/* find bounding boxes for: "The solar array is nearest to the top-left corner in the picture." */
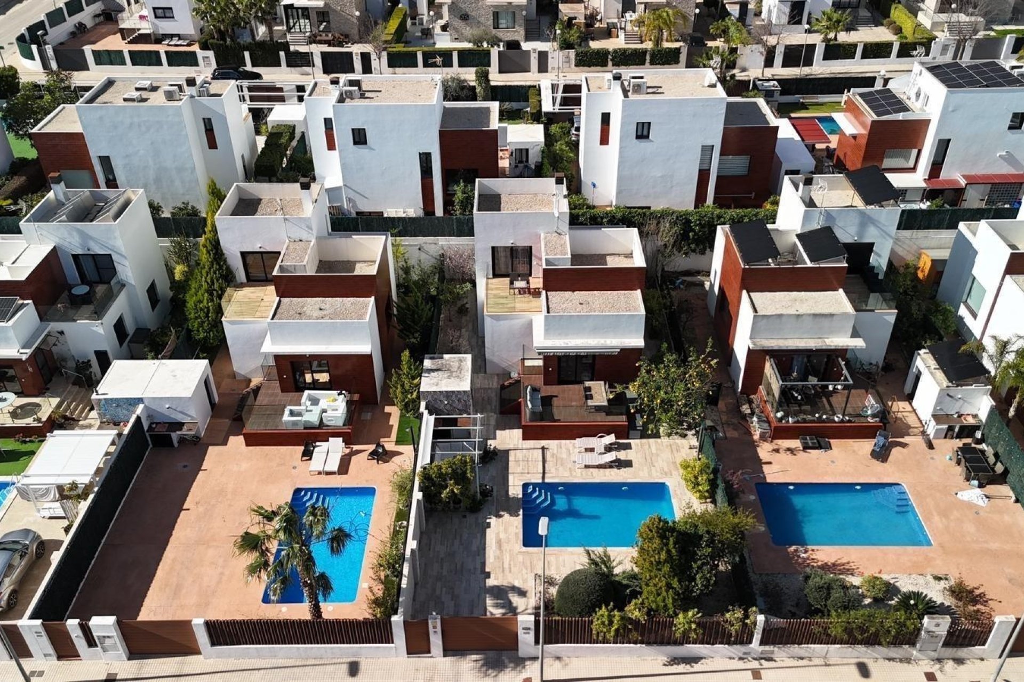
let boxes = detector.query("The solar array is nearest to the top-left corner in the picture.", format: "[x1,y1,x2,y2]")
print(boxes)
[0,299,26,329]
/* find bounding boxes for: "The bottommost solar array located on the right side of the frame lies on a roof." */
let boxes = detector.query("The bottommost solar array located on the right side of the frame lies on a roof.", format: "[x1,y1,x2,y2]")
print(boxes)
[857,90,917,118]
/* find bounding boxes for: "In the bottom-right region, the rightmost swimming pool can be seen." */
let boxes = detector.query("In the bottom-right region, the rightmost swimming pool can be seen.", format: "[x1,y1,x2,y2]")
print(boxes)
[754,482,935,548]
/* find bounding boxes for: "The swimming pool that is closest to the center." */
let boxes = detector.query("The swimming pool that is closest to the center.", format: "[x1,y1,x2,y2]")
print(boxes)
[520,482,678,550]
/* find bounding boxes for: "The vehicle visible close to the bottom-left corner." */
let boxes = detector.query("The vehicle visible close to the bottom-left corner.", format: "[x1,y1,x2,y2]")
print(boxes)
[0,530,42,613]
